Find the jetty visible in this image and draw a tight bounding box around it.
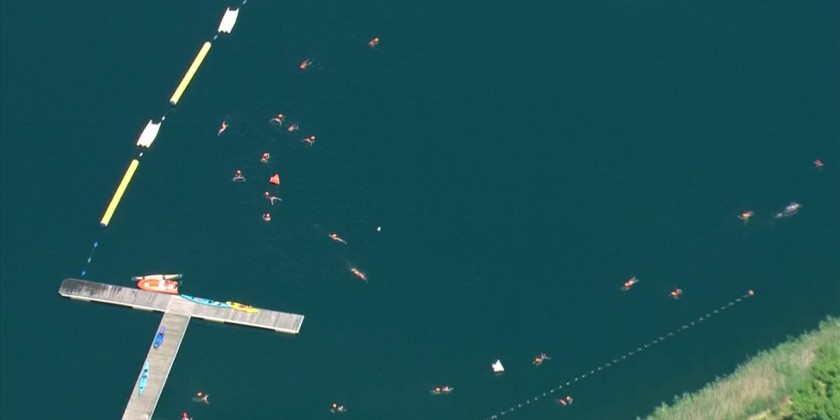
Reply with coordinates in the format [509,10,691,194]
[61,279,304,420]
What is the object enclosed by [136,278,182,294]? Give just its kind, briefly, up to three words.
boat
